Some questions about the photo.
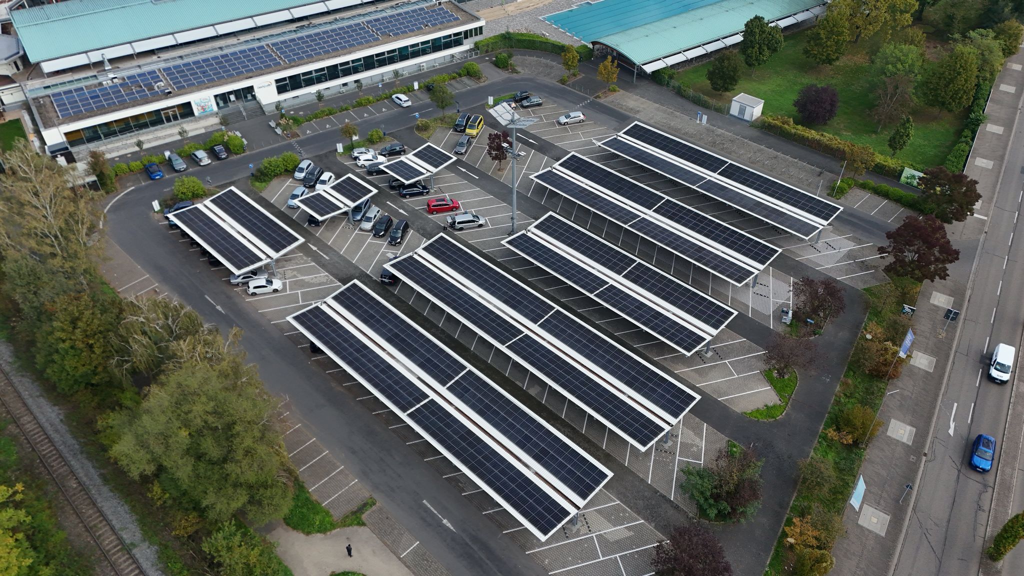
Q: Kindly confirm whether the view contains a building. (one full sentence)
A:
Yes, a building is visible in the scene.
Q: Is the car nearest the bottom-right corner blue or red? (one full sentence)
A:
The color of the car nearest the bottom-right corner is blue.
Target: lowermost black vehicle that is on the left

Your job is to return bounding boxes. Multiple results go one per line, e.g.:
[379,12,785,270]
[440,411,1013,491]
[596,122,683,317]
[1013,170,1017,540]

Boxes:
[300,339,324,357]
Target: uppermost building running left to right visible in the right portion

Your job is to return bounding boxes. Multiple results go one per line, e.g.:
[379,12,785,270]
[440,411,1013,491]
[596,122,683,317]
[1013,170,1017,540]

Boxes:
[594,0,824,85]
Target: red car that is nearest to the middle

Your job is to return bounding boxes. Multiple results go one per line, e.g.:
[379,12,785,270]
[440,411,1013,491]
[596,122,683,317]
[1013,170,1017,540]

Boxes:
[425,196,460,214]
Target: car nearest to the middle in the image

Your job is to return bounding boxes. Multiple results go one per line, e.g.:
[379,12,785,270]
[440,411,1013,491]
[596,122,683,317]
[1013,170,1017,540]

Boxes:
[445,212,486,231]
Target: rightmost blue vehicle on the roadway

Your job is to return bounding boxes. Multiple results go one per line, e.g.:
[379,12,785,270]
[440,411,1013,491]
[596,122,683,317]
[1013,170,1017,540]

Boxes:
[969,431,996,471]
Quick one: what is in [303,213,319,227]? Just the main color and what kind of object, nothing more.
black car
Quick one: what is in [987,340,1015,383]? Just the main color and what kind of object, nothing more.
white vehicle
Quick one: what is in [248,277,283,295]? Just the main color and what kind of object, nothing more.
white car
